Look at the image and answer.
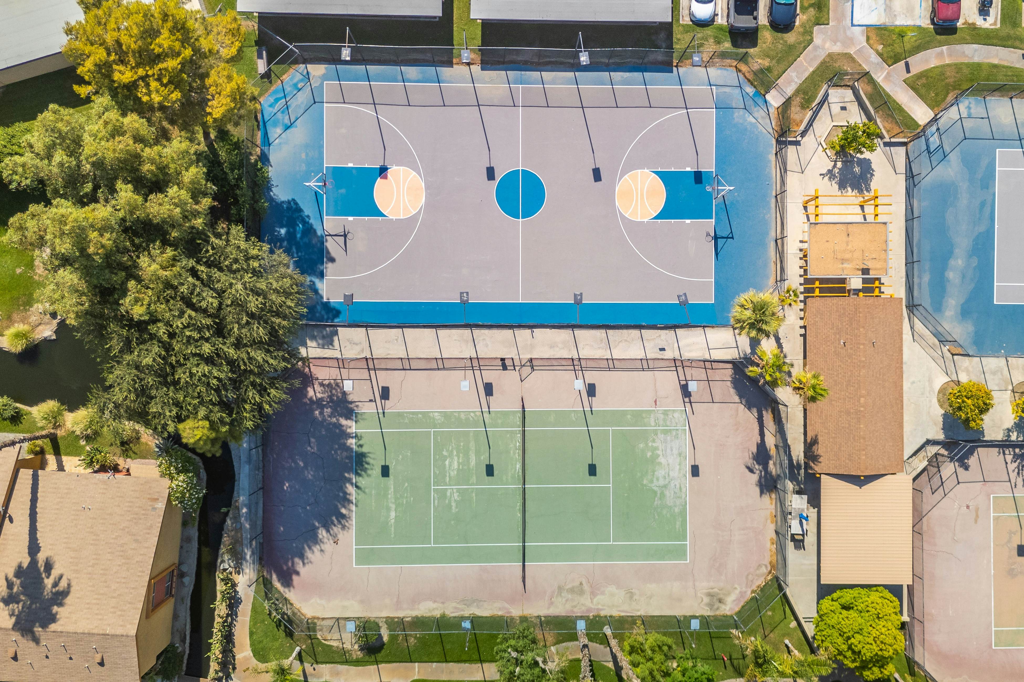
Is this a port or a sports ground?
sports ground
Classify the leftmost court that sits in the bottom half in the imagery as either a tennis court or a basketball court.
tennis court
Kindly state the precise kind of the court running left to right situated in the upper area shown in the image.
basketball court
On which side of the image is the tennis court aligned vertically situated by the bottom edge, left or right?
right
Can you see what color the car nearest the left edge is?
white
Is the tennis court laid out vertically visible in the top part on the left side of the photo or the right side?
right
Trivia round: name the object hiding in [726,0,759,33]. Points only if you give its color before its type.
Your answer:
gray truck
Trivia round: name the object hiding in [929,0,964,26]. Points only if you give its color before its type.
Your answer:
red car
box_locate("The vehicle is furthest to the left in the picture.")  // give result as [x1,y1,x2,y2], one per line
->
[687,0,715,23]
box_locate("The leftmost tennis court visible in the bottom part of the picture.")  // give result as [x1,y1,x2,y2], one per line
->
[263,359,776,618]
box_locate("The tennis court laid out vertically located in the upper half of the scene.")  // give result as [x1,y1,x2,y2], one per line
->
[907,98,1024,356]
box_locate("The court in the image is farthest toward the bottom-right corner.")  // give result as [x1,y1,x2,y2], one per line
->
[911,442,1024,682]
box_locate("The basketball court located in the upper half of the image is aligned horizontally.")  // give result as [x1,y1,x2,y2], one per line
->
[261,65,776,324]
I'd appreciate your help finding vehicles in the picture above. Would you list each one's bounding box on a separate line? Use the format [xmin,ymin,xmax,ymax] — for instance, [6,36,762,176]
[766,0,799,29]
[929,0,964,26]
[979,0,994,9]
[726,0,759,33]
[687,0,715,23]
